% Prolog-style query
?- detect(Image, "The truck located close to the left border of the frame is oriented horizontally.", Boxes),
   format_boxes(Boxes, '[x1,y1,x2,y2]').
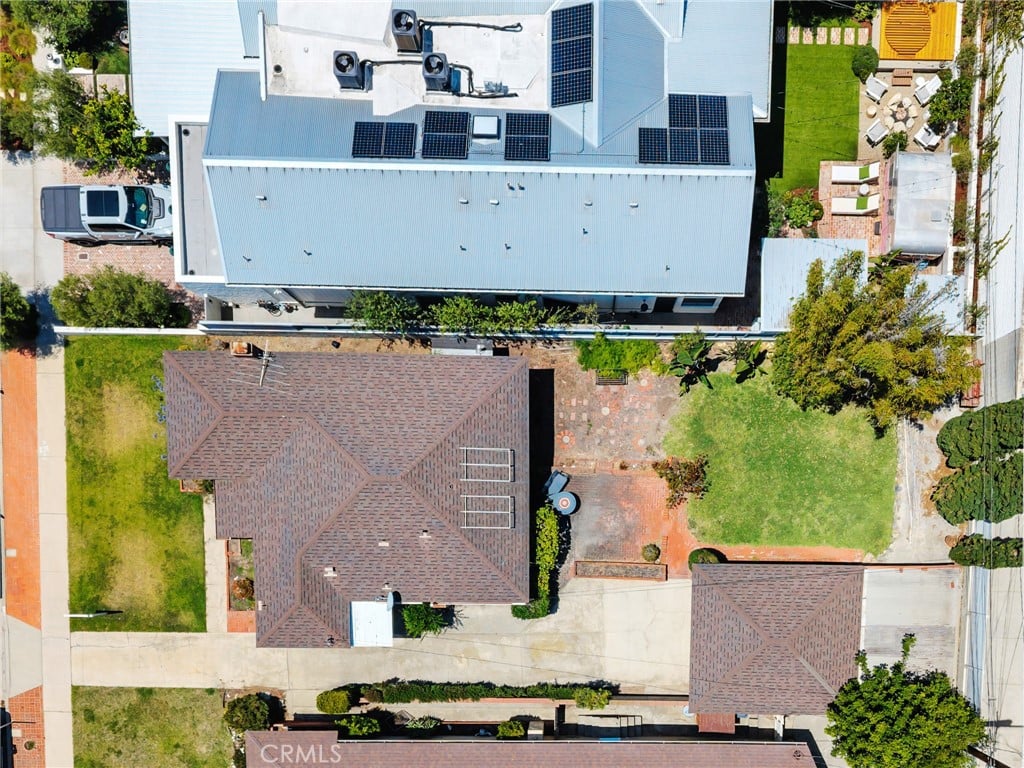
[41,179,174,244]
